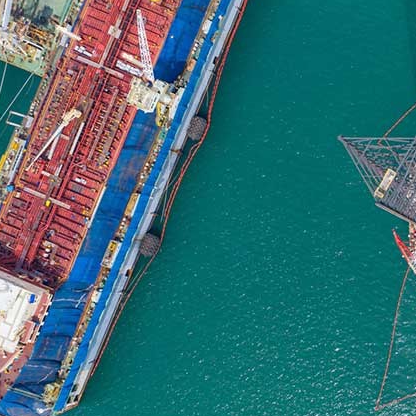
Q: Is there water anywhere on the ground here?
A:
Yes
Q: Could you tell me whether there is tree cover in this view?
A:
No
